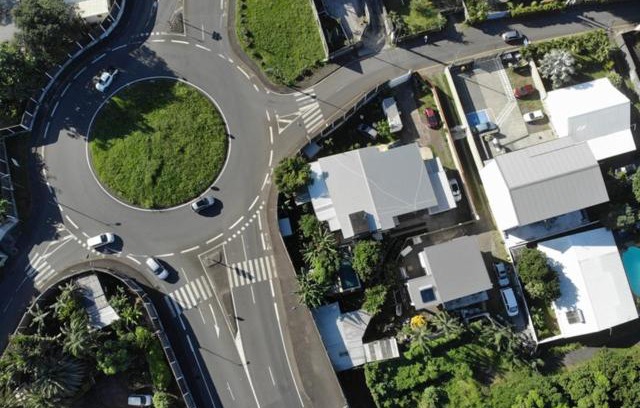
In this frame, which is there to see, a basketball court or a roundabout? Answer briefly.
roundabout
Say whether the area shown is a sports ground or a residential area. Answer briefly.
residential area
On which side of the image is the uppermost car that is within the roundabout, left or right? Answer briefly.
left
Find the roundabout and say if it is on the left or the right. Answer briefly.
left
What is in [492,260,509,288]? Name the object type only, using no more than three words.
car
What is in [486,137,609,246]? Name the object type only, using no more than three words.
house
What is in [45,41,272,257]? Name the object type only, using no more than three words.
roundabout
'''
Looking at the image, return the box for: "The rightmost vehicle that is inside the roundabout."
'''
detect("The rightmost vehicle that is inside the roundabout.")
[191,196,216,213]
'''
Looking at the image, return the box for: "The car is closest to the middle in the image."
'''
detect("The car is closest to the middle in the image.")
[357,122,379,140]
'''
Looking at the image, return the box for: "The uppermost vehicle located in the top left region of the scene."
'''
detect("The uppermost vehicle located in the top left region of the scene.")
[95,67,117,91]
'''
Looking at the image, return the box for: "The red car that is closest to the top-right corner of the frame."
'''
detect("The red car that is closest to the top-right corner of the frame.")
[512,84,536,97]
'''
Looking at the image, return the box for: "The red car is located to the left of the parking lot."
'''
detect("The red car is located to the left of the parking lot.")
[424,107,438,129]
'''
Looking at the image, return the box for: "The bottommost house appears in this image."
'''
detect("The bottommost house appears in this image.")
[312,303,371,371]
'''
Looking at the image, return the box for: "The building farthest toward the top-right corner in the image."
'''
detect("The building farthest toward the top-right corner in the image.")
[538,77,636,161]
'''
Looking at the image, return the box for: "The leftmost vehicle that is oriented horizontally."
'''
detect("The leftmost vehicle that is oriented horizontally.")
[86,232,116,249]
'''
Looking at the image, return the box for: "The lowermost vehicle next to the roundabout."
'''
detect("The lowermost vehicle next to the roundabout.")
[145,254,168,280]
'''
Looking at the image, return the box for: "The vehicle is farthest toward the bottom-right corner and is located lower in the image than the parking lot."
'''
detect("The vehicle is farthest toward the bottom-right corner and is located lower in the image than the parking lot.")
[499,287,519,316]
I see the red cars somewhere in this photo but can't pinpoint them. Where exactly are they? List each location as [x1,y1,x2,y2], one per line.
[424,107,438,129]
[512,84,536,97]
